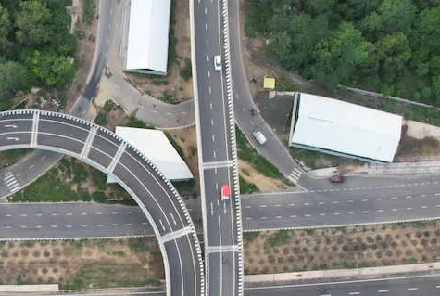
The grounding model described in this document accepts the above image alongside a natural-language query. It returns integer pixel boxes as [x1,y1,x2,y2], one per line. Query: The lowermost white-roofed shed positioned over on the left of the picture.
[104,126,194,183]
